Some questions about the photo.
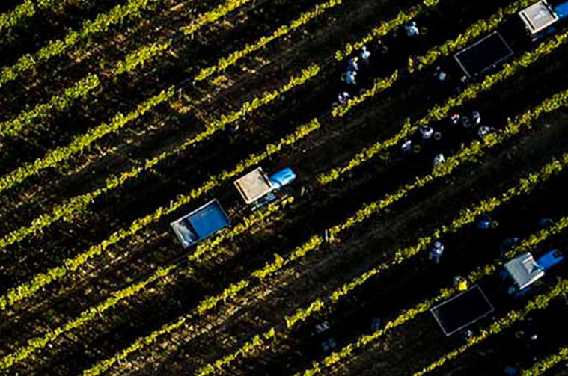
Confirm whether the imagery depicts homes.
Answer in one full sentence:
No, there's no home here.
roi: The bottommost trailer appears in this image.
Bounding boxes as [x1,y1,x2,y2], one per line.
[429,284,497,340]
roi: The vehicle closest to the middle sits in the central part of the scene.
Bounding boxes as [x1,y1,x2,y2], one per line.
[231,166,295,214]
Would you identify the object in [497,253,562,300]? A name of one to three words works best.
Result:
work vehicle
